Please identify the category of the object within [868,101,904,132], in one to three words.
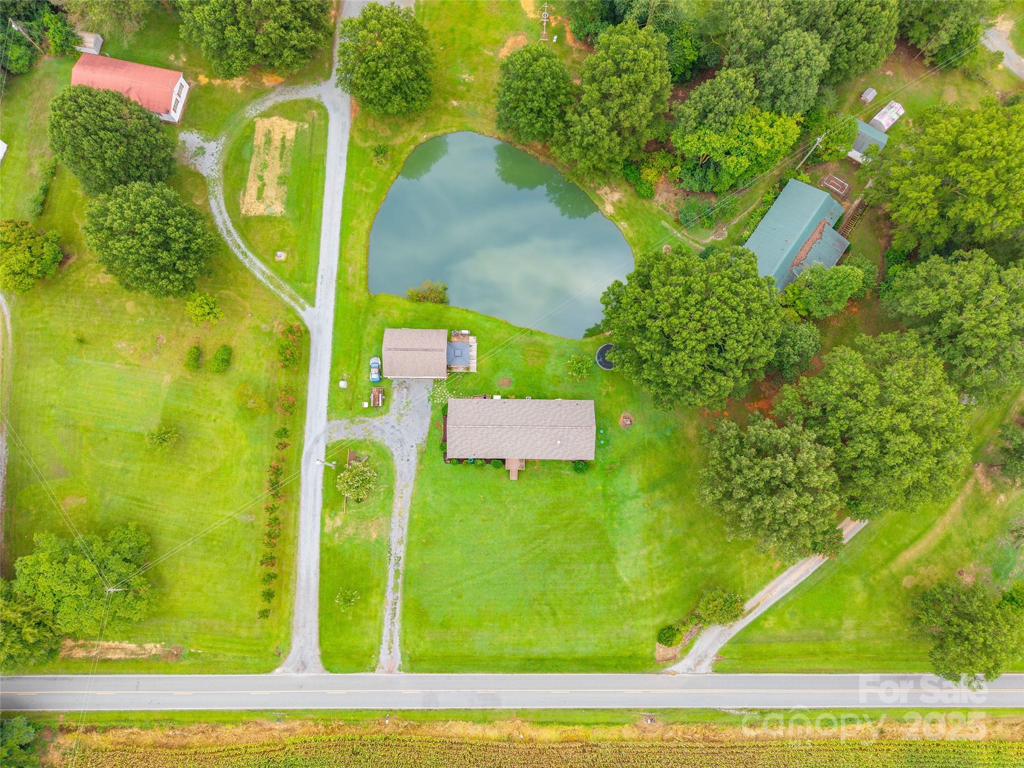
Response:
shed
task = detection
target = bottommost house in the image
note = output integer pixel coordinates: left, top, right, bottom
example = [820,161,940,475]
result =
[446,398,595,460]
